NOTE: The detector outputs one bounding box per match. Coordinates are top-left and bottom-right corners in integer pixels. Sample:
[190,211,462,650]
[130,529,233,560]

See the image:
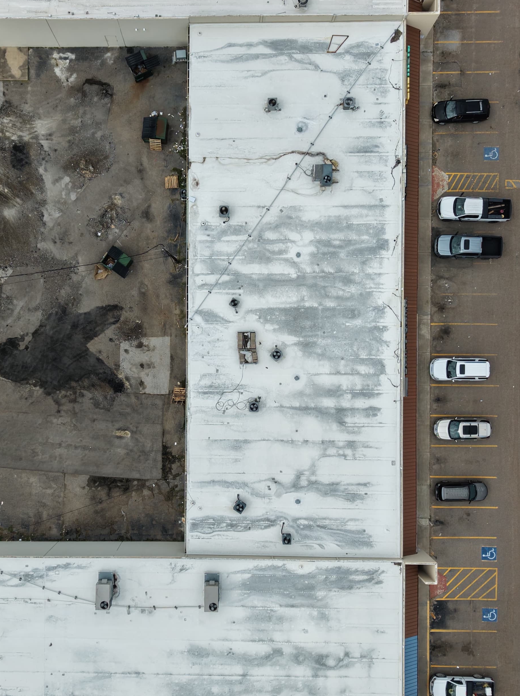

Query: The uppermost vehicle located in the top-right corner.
[432,98,491,128]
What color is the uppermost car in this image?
black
